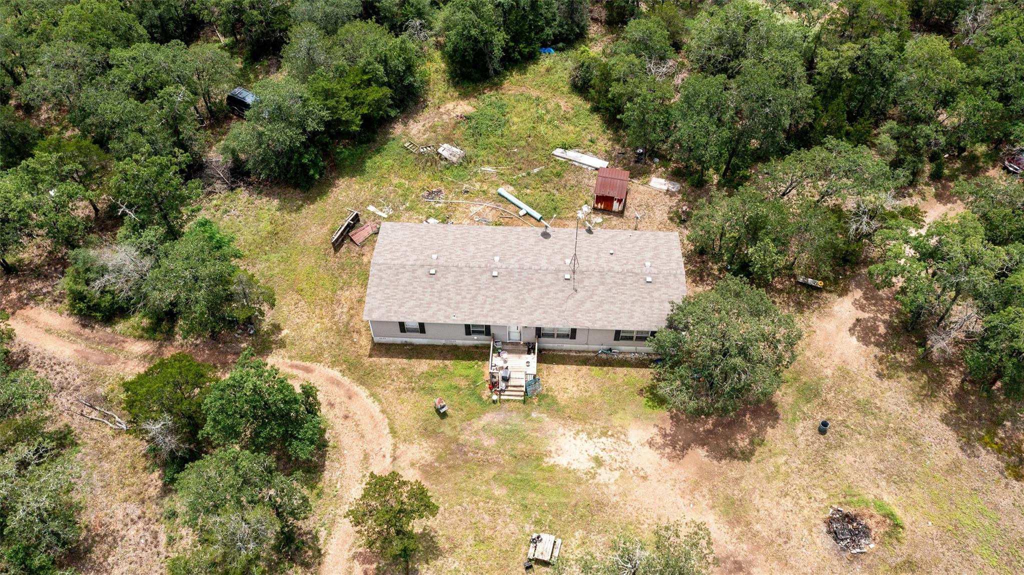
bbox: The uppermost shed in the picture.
[593,166,633,214]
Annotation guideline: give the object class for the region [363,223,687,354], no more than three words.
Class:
house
